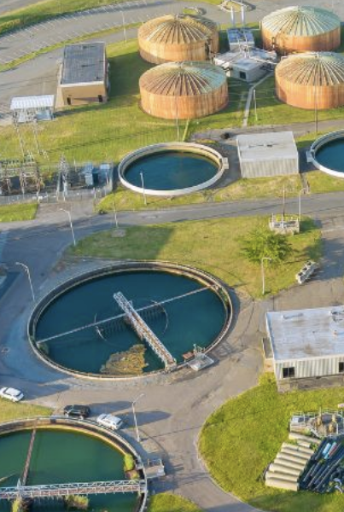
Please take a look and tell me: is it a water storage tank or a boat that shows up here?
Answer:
water storage tank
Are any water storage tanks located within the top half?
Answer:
Yes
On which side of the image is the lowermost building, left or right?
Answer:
right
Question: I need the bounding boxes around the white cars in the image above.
[0,387,25,402]
[94,411,125,431]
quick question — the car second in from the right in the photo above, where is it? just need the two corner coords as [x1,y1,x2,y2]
[59,403,91,419]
